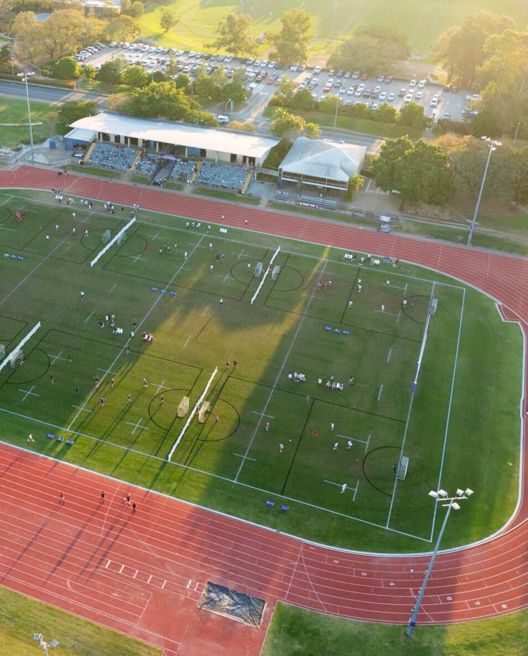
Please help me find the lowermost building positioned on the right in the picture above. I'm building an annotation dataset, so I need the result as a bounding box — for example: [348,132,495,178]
[278,138,366,201]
